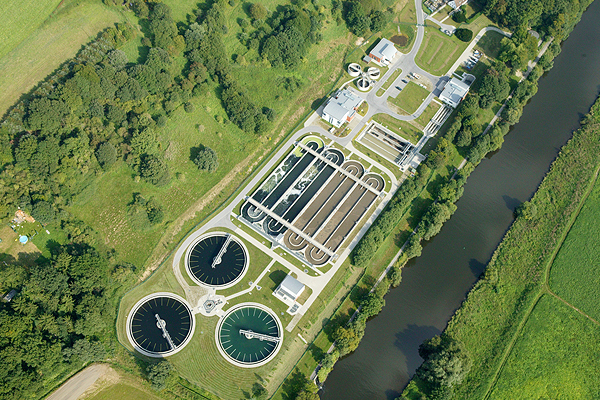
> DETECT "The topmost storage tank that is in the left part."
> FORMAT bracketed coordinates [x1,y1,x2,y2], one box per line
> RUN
[185,231,251,290]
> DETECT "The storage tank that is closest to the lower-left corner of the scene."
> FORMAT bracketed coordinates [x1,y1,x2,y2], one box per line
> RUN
[126,292,196,358]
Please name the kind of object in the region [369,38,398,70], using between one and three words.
building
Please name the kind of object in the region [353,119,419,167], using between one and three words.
storage tank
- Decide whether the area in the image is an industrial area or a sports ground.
industrial area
